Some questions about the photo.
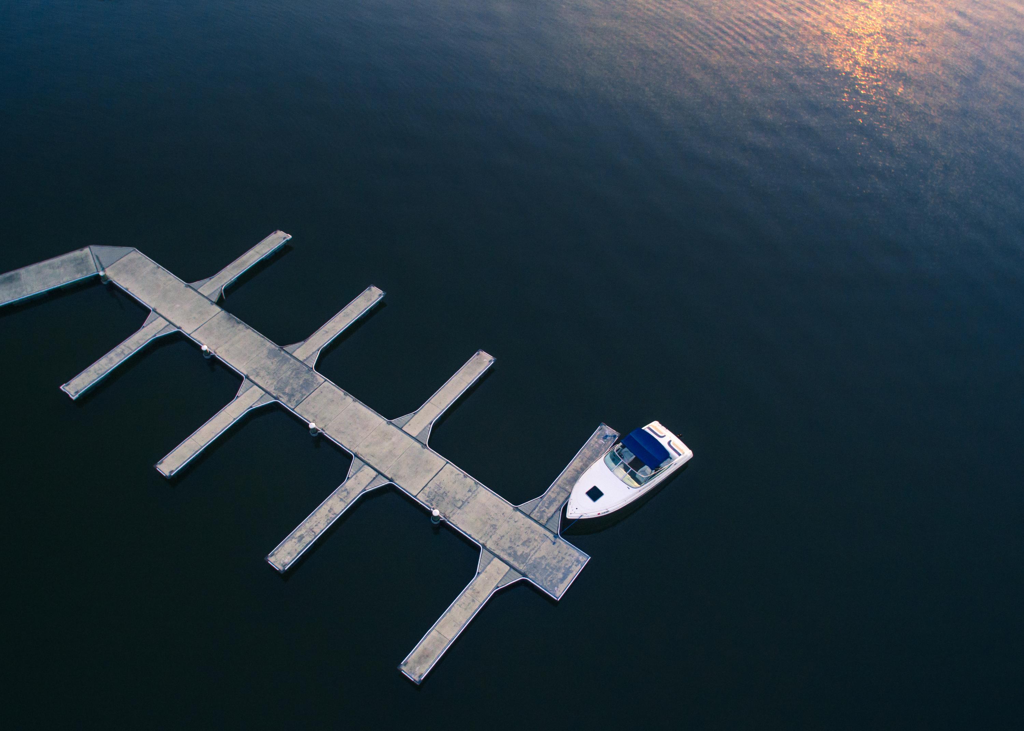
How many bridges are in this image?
0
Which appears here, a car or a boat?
boat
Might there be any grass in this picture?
No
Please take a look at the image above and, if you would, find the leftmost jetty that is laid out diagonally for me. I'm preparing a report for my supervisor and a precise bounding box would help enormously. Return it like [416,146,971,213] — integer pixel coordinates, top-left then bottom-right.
[60,309,182,402]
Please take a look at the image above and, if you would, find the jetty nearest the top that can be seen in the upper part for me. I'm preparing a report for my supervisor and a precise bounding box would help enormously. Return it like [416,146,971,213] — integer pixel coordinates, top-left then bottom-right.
[186,231,292,306]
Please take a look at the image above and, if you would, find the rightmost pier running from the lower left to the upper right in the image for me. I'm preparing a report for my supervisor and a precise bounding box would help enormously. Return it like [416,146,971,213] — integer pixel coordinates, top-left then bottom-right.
[512,423,620,539]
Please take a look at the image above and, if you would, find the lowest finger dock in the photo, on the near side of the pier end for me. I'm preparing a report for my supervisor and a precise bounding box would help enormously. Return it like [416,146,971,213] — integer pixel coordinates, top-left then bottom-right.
[398,544,529,687]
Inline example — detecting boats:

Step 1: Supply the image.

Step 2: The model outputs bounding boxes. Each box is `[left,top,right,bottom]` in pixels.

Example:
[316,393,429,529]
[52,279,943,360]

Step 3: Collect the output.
[565,421,692,520]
